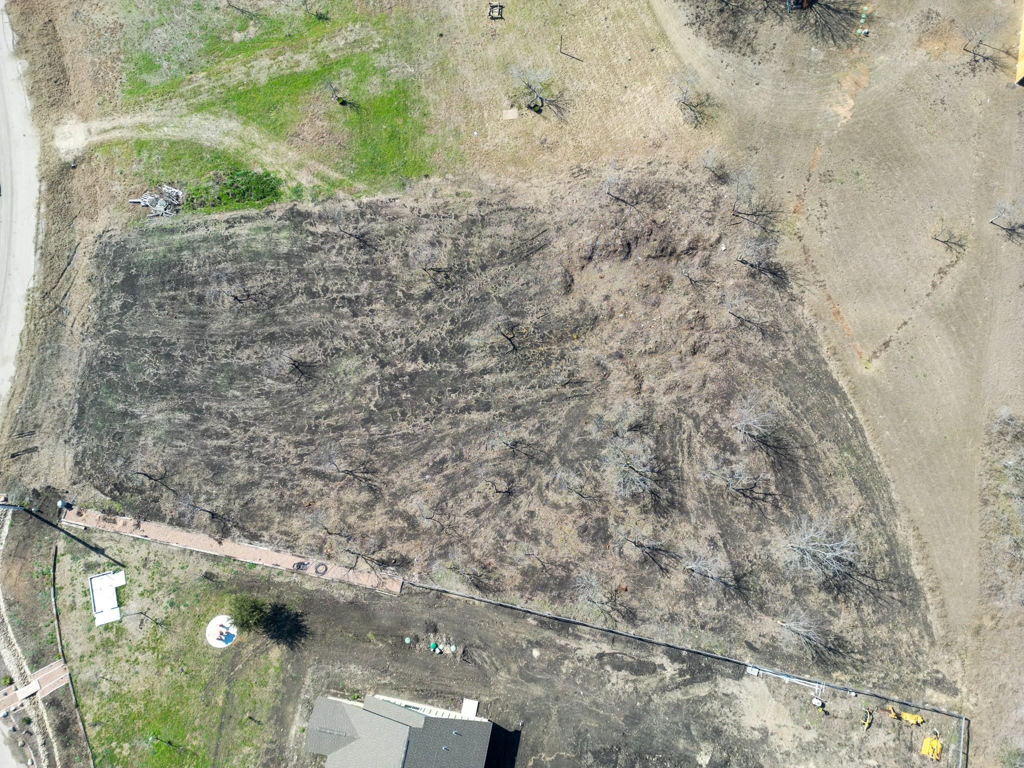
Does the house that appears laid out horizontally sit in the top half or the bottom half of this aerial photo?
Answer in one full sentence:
The house that appears laid out horizontally sits in the bottom half of the picture.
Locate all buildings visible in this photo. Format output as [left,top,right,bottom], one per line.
[305,692,494,768]
[1016,0,1024,85]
